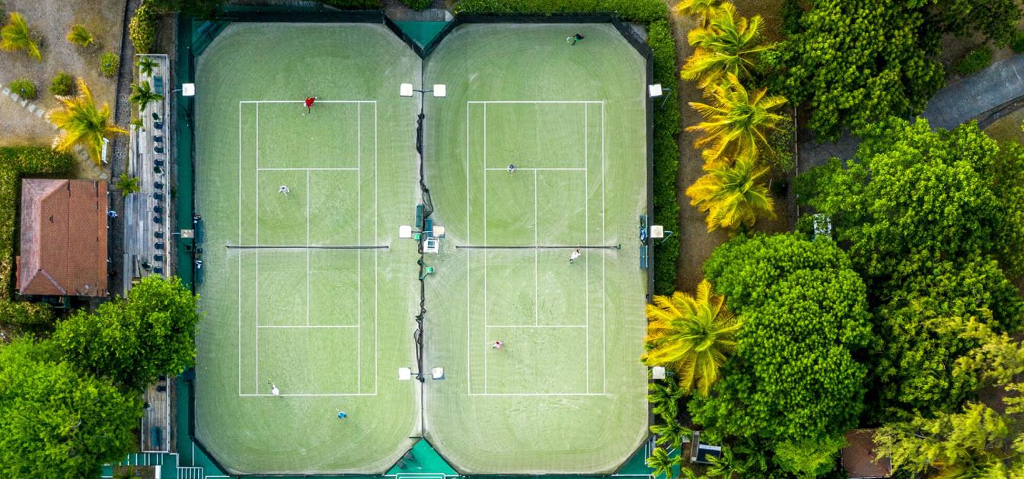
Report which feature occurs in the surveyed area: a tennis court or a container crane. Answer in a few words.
tennis court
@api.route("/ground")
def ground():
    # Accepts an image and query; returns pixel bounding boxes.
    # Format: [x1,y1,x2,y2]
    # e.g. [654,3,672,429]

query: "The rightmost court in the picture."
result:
[422,22,648,475]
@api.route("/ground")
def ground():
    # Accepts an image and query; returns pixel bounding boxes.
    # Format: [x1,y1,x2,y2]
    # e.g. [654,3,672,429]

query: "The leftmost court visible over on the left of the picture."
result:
[194,22,422,475]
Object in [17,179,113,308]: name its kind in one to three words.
house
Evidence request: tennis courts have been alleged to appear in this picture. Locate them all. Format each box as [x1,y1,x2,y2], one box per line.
[422,22,648,475]
[194,22,422,475]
